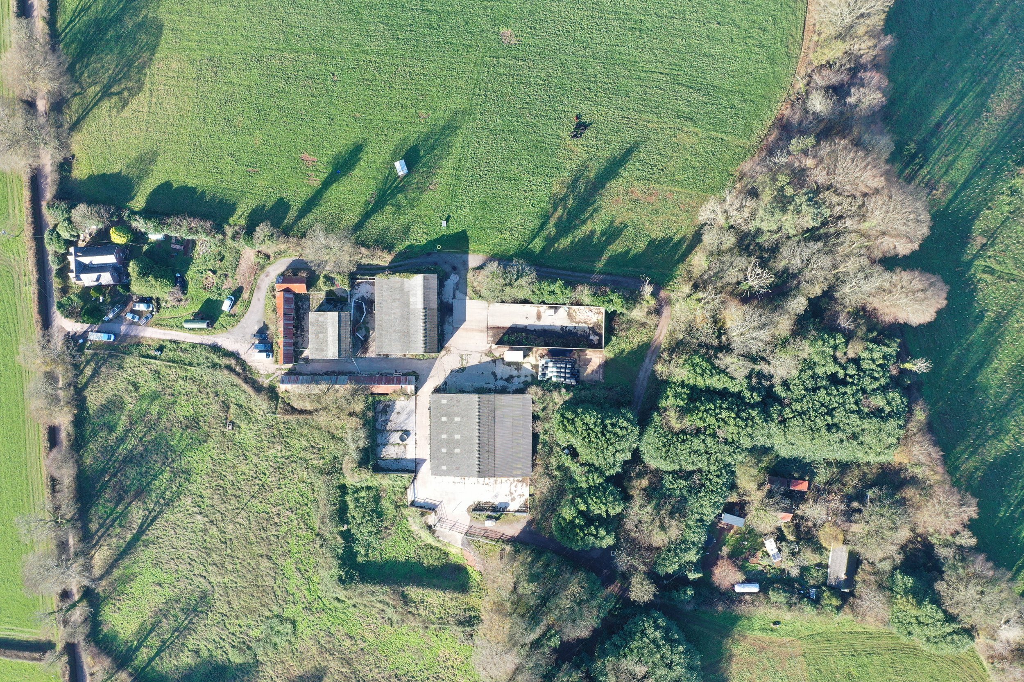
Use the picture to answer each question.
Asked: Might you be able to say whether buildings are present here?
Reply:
Yes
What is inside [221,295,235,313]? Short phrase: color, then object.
white vehicle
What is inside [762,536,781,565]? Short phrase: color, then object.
white camper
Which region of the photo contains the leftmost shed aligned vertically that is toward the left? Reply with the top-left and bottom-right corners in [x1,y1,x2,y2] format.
[276,291,295,364]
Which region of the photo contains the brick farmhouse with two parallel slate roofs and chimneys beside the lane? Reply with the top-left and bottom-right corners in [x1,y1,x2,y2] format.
[64,245,132,286]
